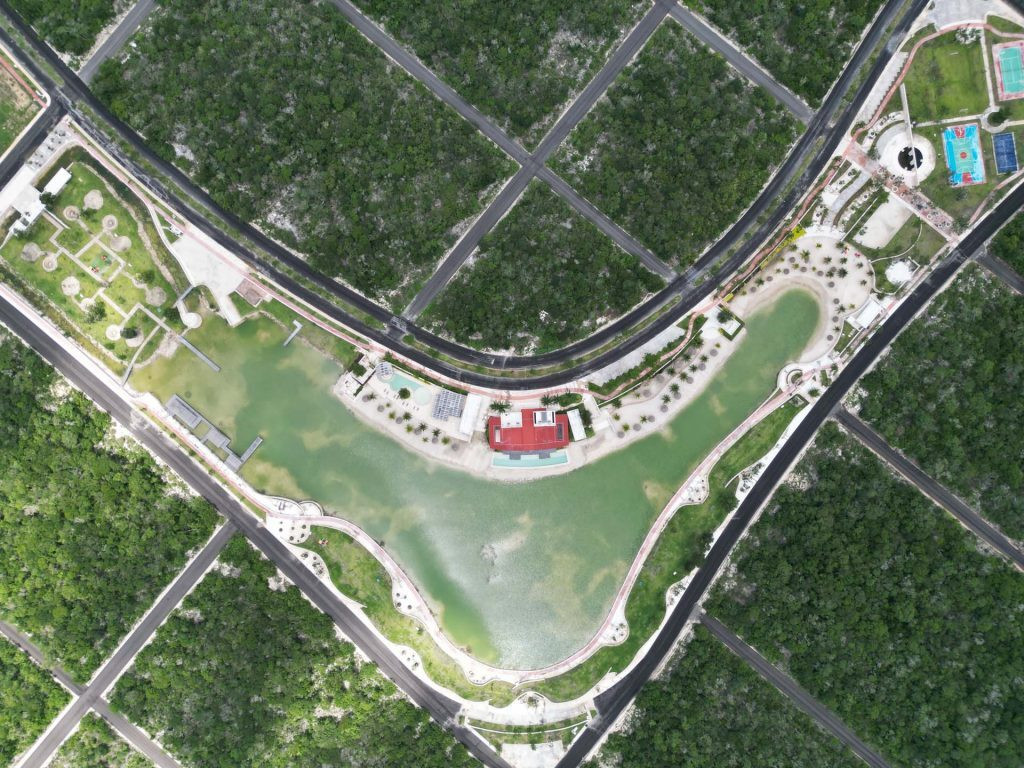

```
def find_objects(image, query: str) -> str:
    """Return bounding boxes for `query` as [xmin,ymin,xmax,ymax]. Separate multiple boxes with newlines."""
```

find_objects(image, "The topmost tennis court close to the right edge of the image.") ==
[992,41,1024,101]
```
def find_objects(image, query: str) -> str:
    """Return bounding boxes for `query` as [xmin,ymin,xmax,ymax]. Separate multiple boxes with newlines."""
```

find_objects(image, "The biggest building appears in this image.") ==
[489,408,569,460]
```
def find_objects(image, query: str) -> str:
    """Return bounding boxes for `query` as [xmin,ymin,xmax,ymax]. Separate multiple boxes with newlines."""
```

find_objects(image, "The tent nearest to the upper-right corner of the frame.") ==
[888,258,916,285]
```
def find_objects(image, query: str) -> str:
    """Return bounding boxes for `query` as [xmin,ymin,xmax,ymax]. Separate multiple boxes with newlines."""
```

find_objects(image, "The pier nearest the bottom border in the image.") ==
[223,437,262,472]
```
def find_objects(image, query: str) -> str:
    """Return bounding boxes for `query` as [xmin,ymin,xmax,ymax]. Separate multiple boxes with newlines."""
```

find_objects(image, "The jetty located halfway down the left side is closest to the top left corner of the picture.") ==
[179,335,221,372]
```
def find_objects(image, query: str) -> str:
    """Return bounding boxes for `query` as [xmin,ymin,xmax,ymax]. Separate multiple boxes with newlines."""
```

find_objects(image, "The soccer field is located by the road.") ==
[905,40,989,125]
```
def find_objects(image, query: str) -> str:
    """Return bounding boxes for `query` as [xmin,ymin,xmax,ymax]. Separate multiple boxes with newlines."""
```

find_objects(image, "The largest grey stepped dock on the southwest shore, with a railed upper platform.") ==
[166,395,230,447]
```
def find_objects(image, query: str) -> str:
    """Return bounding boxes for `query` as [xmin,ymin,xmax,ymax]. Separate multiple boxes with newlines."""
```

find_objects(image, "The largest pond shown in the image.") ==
[129,289,820,671]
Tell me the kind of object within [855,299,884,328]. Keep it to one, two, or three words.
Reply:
building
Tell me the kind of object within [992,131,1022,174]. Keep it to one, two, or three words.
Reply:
sports court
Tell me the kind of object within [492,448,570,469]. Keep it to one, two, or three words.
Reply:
swimming pool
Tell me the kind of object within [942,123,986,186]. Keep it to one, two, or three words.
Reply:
basketball court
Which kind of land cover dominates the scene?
trees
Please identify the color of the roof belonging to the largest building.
red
